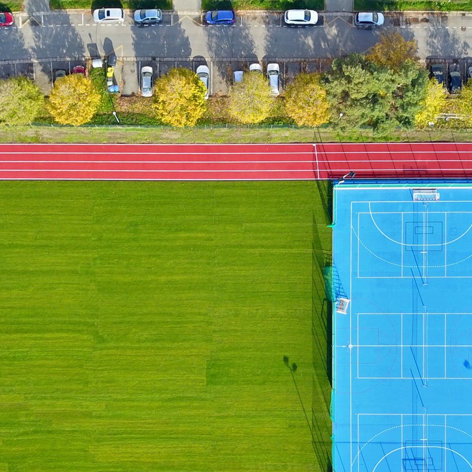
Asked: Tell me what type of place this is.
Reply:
sports ground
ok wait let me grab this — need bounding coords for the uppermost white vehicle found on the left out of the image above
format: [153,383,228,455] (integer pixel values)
[94,7,123,23]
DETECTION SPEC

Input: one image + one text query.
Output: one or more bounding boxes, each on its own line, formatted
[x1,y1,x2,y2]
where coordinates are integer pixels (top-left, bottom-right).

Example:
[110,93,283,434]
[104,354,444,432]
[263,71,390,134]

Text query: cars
[134,9,162,24]
[195,66,210,99]
[466,67,472,85]
[94,7,123,23]
[231,70,244,95]
[430,64,446,92]
[140,66,154,97]
[248,64,263,92]
[266,64,282,96]
[354,11,384,28]
[0,11,13,26]
[448,64,463,94]
[206,10,234,25]
[285,8,318,25]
